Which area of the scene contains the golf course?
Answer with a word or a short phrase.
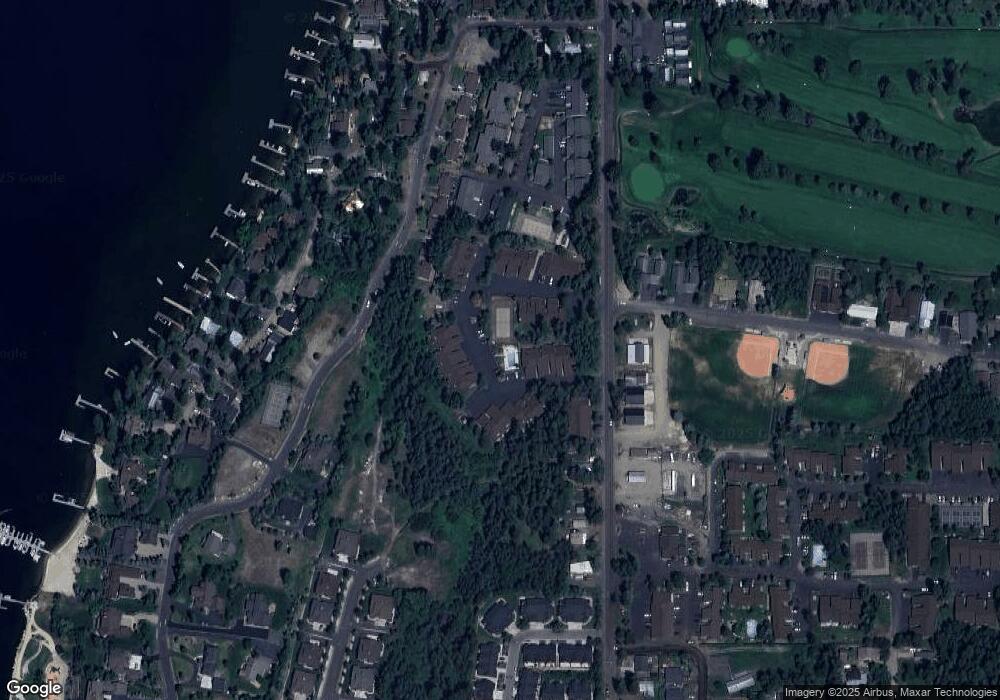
top right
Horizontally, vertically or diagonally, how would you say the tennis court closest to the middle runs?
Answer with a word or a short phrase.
vertically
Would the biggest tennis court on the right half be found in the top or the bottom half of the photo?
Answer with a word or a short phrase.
bottom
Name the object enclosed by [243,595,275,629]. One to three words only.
house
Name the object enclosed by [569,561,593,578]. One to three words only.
shed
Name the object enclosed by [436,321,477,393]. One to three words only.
building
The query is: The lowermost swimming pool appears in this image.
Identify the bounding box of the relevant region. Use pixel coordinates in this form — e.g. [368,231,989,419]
[745,618,759,640]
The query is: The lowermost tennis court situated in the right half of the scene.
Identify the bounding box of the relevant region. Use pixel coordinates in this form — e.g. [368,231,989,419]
[850,533,890,575]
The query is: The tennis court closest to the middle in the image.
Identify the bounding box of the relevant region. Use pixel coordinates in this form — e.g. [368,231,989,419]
[492,297,515,341]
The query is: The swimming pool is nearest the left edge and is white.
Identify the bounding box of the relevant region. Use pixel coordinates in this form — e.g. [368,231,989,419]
[503,344,519,371]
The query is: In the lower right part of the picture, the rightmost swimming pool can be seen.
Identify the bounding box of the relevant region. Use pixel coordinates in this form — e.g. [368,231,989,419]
[812,542,828,568]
